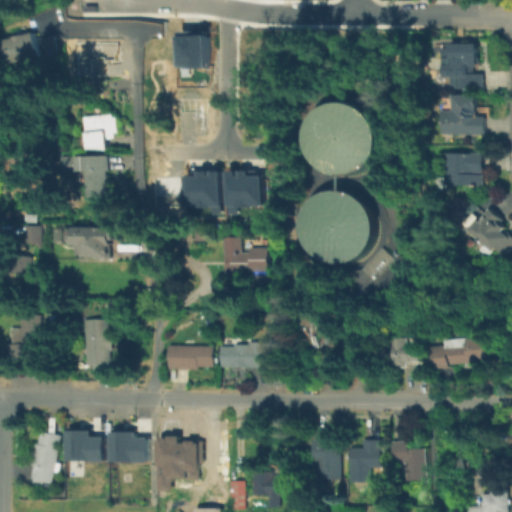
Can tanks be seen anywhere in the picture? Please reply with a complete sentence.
Yes, looking at the shot, I can spot a tank.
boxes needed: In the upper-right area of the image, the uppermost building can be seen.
[442,42,486,90]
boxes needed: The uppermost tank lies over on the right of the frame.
[300,102,373,175]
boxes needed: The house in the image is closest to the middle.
[224,238,267,272]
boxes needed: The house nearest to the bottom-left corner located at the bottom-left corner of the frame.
[32,433,60,485]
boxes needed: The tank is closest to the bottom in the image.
[296,190,370,265]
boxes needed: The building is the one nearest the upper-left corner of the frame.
[0,33,32,62]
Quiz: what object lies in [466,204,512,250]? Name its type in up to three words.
house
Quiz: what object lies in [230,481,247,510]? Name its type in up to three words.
shed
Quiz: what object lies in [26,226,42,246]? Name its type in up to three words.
shed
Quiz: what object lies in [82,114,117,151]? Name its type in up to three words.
house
